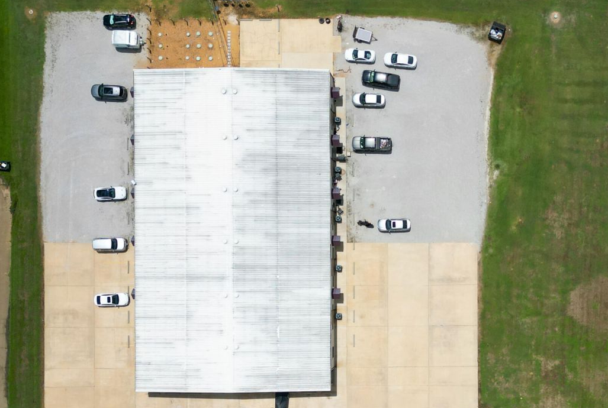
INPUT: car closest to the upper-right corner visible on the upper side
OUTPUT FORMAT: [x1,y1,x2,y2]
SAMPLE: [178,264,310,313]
[385,52,416,69]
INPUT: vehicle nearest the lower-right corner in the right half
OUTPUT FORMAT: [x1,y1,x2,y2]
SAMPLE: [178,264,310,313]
[377,218,411,234]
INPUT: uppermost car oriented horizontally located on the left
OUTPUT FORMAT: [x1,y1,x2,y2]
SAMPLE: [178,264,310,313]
[103,13,135,29]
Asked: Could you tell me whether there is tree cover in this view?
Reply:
No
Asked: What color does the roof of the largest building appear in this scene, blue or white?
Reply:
white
